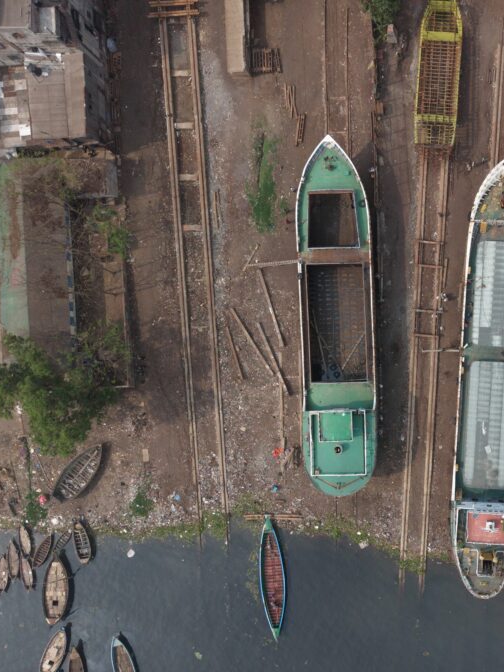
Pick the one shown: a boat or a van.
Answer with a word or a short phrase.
boat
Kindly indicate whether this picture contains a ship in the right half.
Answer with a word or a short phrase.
Yes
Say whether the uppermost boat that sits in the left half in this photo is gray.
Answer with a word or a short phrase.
Yes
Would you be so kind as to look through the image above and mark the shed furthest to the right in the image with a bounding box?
[226,0,254,82]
